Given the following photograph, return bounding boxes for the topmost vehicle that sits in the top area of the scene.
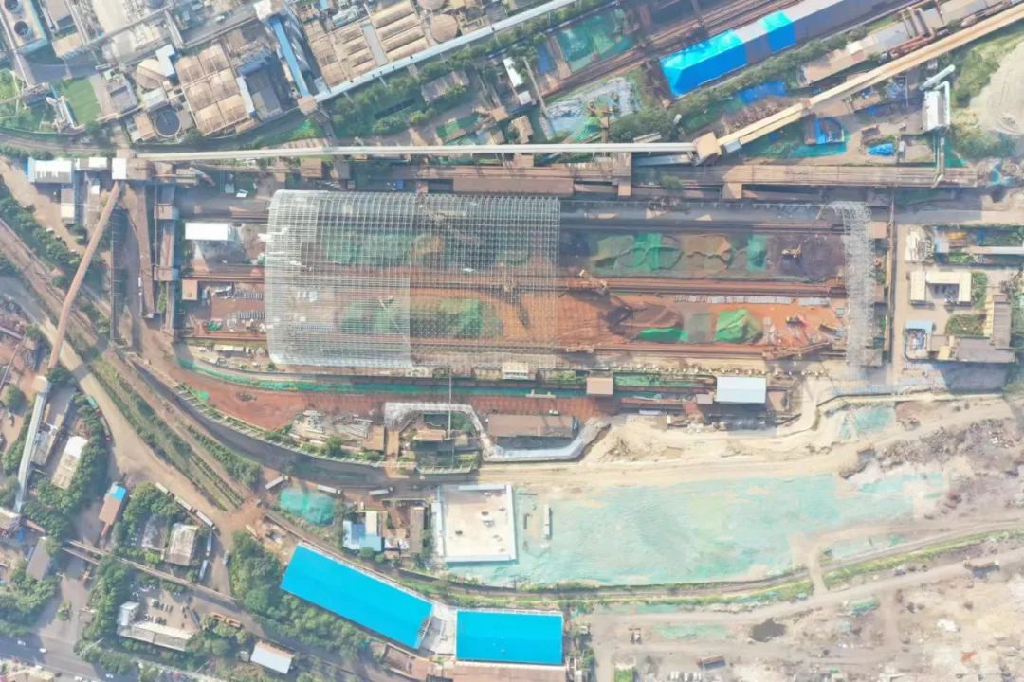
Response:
[209,10,227,22]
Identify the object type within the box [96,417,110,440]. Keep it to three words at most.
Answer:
vehicle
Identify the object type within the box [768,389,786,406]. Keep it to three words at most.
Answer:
shed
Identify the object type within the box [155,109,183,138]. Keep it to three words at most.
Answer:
storage tank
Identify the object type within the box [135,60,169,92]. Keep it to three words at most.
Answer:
storage tank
